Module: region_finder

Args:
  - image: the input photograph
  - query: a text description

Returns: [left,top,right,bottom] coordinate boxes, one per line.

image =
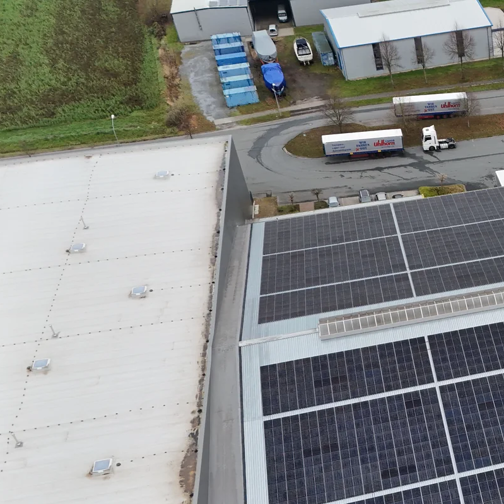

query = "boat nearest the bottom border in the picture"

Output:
[260,62,287,95]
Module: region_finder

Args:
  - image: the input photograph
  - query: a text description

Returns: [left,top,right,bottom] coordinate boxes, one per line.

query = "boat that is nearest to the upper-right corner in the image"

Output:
[295,37,315,66]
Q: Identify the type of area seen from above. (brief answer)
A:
industrial area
